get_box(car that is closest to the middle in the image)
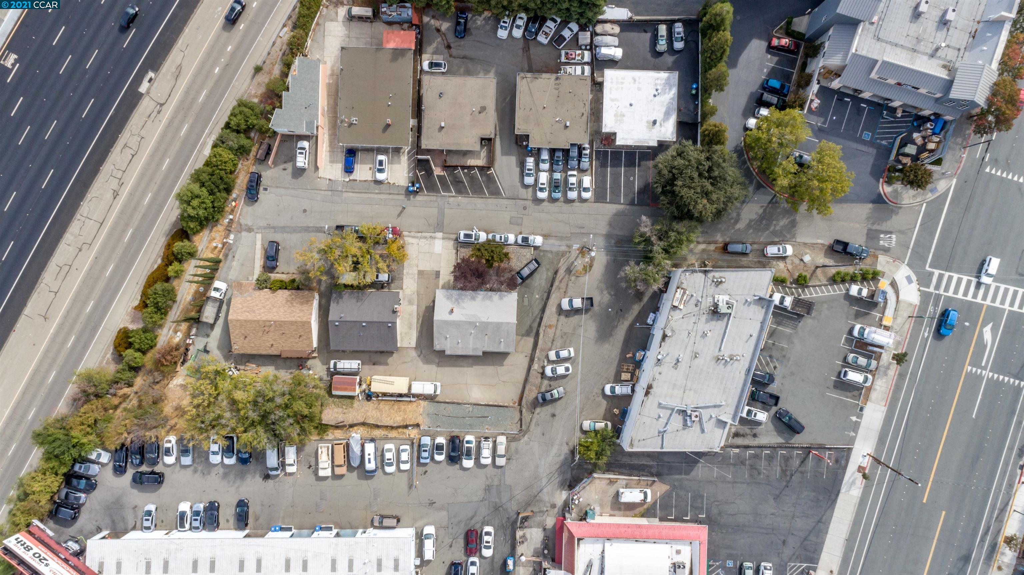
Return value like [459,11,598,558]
[515,256,543,286]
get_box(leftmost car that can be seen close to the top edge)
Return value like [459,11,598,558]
[118,4,141,29]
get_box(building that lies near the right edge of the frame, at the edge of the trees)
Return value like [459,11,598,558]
[807,0,1020,124]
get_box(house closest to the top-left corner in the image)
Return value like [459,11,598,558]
[269,57,325,136]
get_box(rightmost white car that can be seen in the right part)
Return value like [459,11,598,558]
[979,255,1001,285]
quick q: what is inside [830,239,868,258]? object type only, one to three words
vehicle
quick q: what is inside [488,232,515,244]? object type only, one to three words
vehicle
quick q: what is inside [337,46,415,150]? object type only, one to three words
building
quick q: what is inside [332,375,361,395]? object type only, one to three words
shed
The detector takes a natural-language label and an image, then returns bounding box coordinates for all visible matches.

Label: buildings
[601,69,678,149]
[515,73,590,151]
[328,290,403,351]
[546,516,710,575]
[420,75,496,153]
[620,269,776,452]
[433,289,518,356]
[337,46,415,150]
[807,0,1020,124]
[269,57,325,136]
[227,282,318,358]
[72,525,421,575]
[332,375,361,395]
